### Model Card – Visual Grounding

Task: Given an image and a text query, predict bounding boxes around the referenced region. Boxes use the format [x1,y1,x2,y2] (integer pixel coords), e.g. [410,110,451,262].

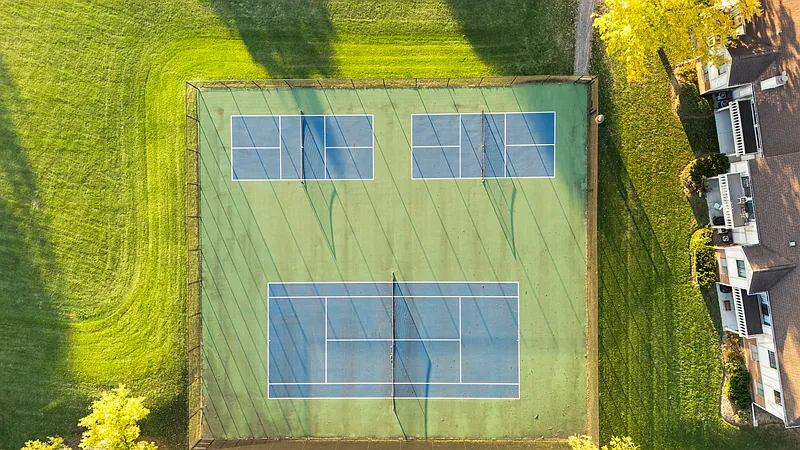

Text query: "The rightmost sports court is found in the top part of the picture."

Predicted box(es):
[411,111,556,179]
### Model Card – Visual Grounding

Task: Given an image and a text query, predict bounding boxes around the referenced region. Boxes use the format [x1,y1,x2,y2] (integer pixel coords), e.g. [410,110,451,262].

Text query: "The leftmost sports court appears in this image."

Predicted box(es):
[230,114,374,180]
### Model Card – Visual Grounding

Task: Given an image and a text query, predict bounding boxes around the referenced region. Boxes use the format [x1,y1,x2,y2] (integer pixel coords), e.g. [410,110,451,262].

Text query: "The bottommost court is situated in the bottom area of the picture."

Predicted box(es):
[267,281,520,400]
